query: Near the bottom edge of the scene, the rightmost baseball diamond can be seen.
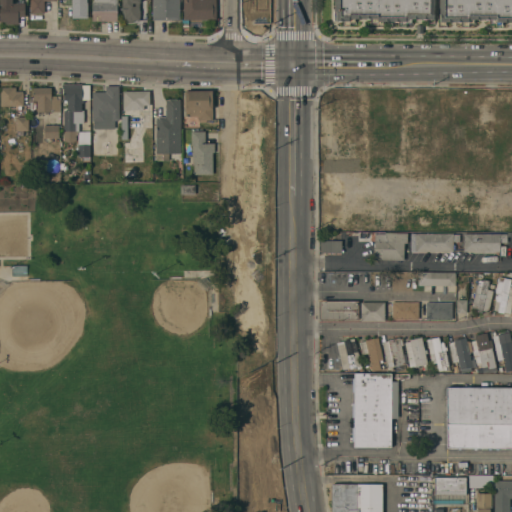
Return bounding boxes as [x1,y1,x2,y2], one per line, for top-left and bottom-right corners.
[131,463,213,512]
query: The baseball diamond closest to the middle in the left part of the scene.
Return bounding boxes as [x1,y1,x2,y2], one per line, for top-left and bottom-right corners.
[152,271,218,334]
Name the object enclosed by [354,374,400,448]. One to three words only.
building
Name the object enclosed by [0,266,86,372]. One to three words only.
baseball field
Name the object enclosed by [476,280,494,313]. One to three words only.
house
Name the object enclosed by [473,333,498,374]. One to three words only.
house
